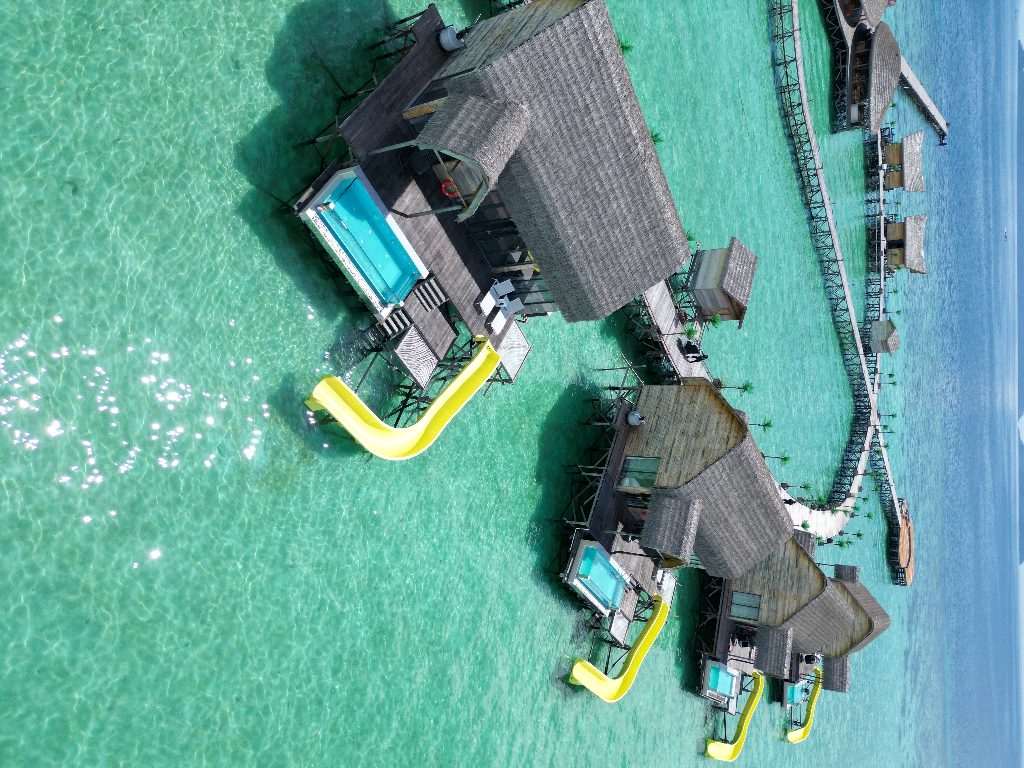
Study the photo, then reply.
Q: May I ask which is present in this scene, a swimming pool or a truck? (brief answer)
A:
swimming pool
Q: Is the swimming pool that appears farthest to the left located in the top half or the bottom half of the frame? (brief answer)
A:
top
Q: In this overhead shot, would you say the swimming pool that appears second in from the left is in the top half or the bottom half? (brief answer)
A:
bottom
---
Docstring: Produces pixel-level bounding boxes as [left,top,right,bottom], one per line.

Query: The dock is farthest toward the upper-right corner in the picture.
[896,51,948,139]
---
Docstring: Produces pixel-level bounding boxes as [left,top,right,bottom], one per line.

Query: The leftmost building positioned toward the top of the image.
[282,0,693,409]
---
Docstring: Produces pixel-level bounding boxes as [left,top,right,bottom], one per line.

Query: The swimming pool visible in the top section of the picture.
[245,156,431,338]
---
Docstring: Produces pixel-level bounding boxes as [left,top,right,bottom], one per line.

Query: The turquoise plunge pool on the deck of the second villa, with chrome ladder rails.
[531,534,632,635]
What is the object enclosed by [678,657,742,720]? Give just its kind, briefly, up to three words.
swimming pool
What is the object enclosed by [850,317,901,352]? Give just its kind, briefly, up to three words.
shed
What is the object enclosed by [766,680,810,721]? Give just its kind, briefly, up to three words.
swimming pool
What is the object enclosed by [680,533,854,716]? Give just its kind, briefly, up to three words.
house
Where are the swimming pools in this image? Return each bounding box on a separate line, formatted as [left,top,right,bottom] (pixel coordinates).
[678,657,742,720]
[531,534,632,635]
[766,680,810,721]
[245,156,431,338]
